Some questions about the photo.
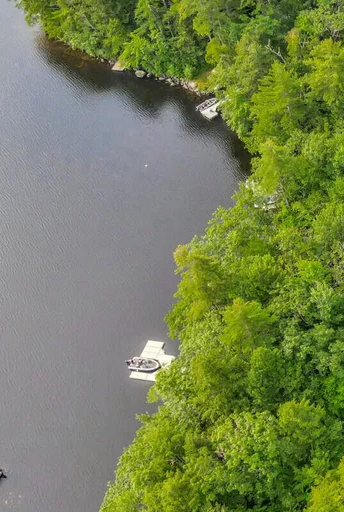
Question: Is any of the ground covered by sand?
No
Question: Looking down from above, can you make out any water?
Yes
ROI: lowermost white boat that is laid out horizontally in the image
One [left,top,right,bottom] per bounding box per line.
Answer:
[126,357,162,372]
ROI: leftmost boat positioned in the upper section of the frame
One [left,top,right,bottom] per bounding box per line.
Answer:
[193,99,216,113]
